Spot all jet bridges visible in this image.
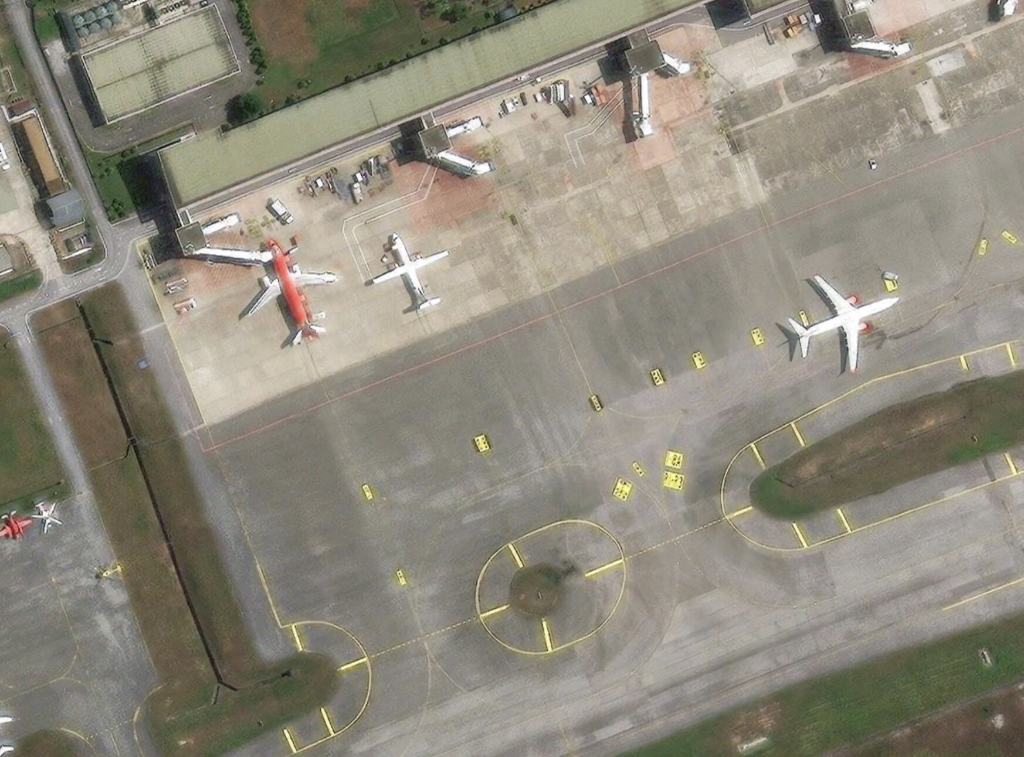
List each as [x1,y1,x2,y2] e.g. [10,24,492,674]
[200,209,244,234]
[446,115,484,137]
[194,248,275,264]
[435,152,493,174]
[849,0,881,10]
[849,41,913,57]
[661,51,693,75]
[635,71,654,137]
[997,0,1013,17]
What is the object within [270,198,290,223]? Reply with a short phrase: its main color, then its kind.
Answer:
white vehicle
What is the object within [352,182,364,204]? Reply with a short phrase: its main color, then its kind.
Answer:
white vehicle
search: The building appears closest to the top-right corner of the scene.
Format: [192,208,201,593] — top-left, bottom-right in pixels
[833,0,876,47]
